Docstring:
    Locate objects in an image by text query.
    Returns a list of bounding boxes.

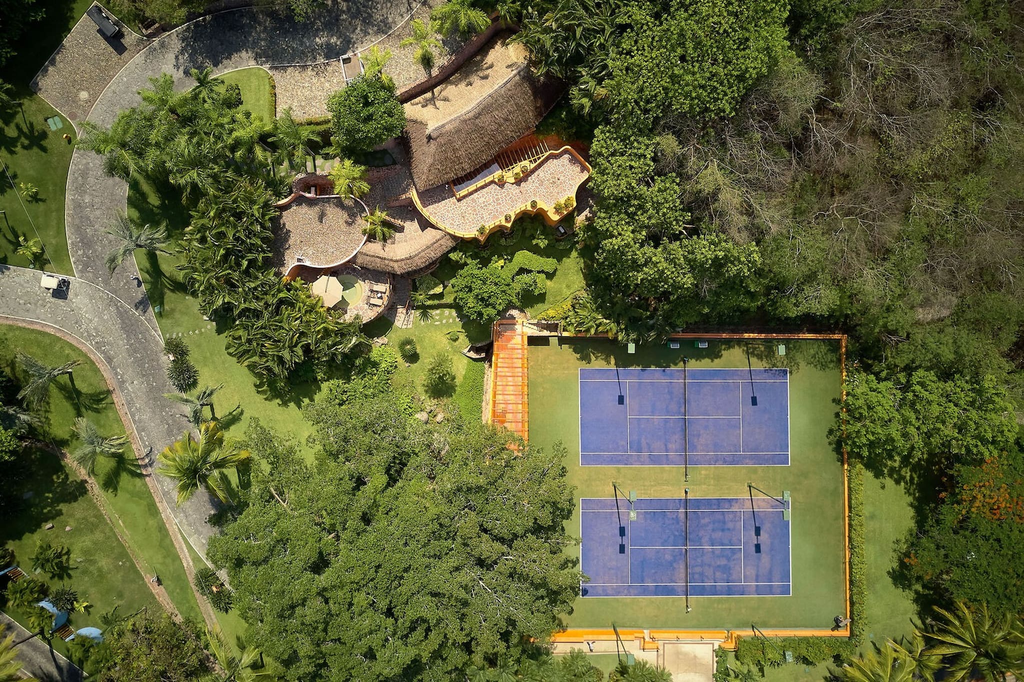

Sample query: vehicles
[40,274,71,289]
[82,3,128,46]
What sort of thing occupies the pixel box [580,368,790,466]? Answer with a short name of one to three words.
tennis court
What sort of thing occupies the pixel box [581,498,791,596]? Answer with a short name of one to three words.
tennis court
